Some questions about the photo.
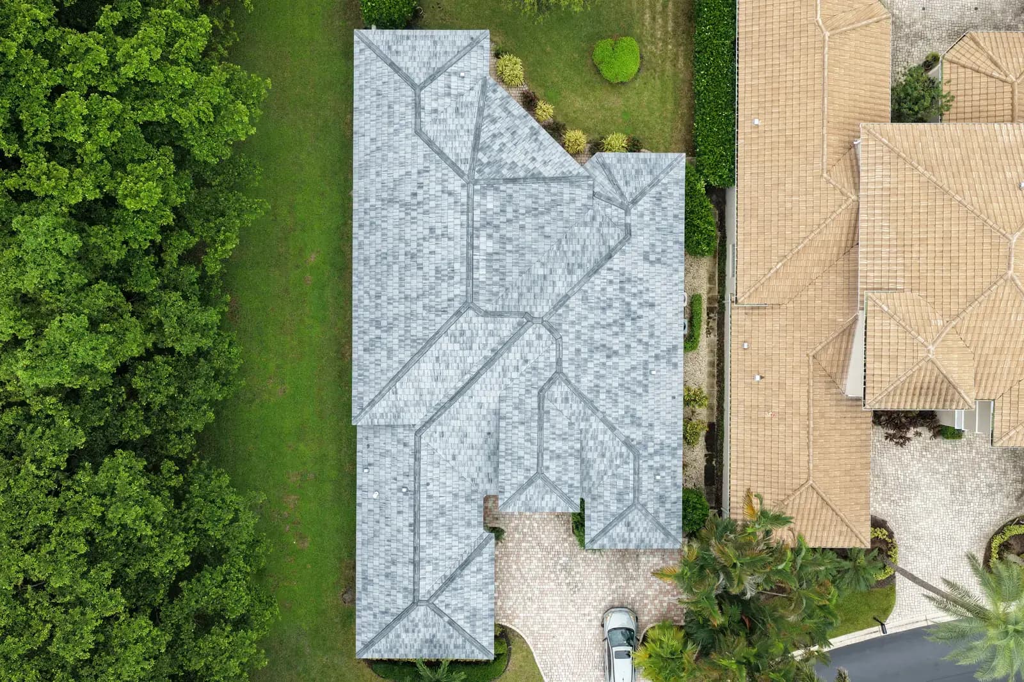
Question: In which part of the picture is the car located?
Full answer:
The car is in the bottom part of the image.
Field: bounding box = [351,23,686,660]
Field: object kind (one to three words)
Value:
house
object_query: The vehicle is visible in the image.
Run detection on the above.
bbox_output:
[601,606,640,682]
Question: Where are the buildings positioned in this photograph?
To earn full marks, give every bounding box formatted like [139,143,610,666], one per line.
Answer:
[721,0,1024,549]
[351,23,686,660]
